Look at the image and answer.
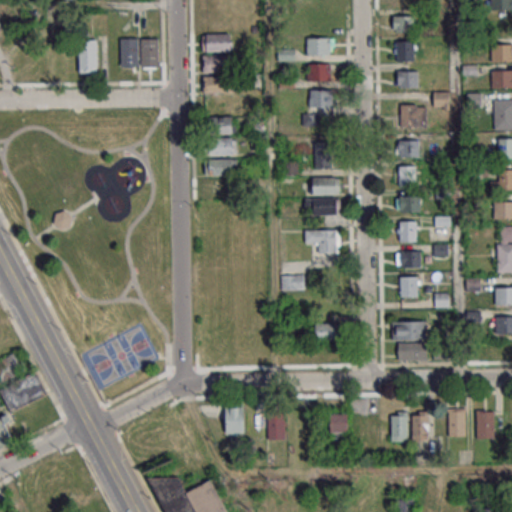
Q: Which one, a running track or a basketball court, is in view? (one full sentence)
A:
The one in the frame is a basketball court.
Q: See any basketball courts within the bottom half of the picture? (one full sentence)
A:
Yes, looking within the bottom half of the picture, one can make out a basketball court.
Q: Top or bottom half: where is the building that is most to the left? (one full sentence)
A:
You can find the building that is most to the left in the bottom half.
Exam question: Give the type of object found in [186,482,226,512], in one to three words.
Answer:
building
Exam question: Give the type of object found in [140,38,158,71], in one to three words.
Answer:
house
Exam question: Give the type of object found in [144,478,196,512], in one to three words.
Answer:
building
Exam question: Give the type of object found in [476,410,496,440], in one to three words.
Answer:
house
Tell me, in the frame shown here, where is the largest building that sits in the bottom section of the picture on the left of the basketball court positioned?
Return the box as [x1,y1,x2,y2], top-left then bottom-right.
[1,376,46,412]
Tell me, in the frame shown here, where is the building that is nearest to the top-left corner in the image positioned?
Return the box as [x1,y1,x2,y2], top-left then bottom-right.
[78,39,98,74]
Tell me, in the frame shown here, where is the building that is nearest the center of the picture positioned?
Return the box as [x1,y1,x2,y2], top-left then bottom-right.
[282,275,306,292]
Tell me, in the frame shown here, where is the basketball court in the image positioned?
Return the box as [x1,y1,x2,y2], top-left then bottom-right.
[83,324,159,390]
